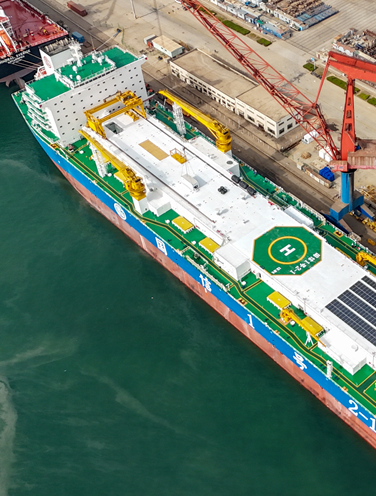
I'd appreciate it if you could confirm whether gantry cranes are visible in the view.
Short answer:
Yes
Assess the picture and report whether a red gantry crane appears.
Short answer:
Yes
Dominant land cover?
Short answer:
water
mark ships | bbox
[12,36,376,446]
[0,0,64,90]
